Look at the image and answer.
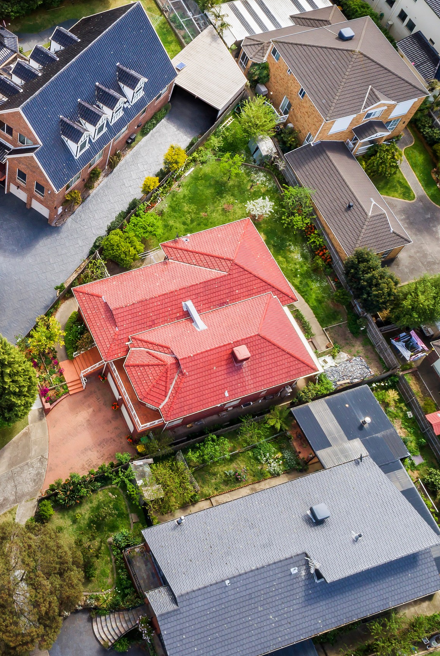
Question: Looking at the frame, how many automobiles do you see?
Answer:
0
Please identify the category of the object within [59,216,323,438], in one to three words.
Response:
house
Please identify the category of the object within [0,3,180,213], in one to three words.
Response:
house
